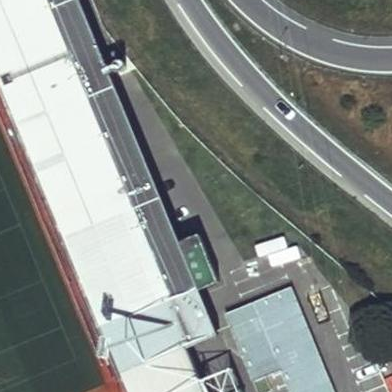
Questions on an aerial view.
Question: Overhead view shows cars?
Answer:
Yes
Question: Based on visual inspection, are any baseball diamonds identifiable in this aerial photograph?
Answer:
No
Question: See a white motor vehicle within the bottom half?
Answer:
Yes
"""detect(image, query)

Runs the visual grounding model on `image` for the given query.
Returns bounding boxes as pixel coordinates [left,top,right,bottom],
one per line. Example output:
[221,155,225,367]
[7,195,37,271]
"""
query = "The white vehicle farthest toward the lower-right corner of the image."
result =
[356,365,380,381]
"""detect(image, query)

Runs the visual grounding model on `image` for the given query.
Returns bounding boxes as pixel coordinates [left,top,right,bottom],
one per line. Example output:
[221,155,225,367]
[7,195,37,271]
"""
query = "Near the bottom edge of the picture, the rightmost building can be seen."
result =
[226,286,336,392]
